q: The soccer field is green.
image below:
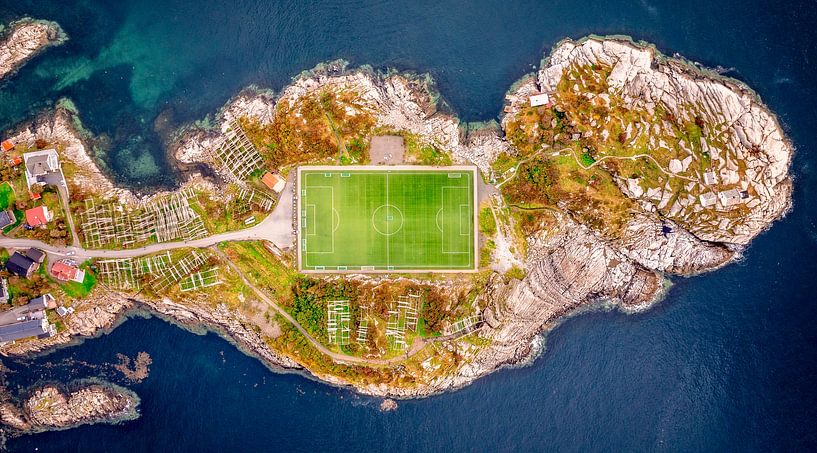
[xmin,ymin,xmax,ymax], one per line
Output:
[298,167,478,272]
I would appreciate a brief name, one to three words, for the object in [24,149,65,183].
house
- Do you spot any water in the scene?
Yes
